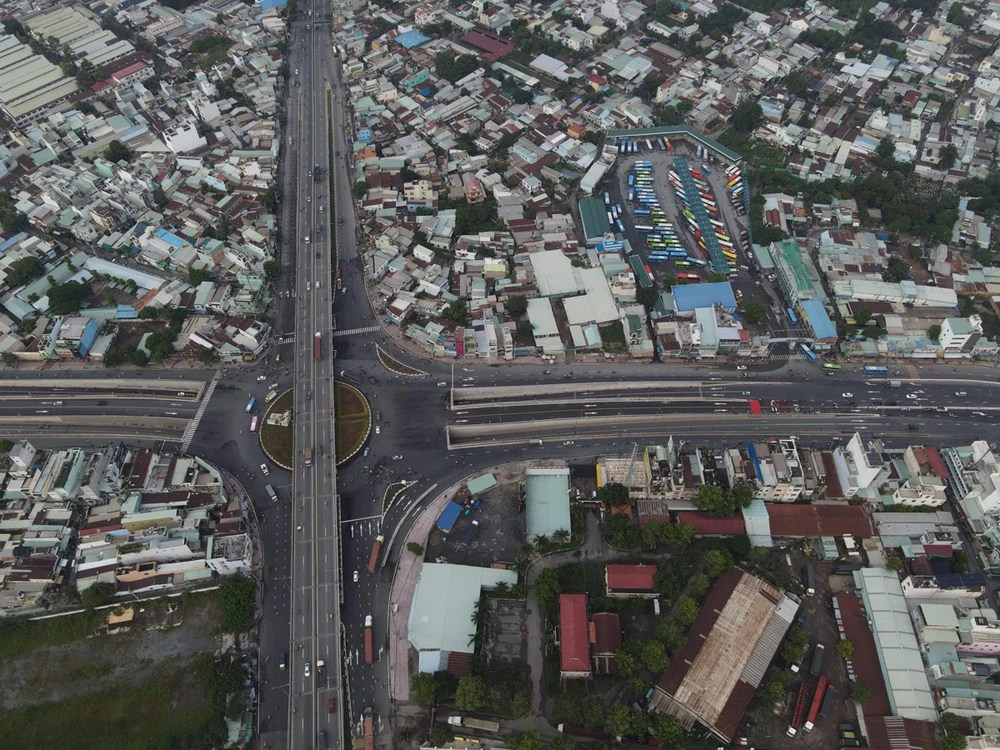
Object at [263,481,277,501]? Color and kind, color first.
gray vehicle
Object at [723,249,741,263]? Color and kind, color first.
yellow vehicle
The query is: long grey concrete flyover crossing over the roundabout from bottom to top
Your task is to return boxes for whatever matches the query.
[287,90,347,750]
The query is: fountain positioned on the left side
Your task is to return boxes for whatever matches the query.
[265,409,291,427]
